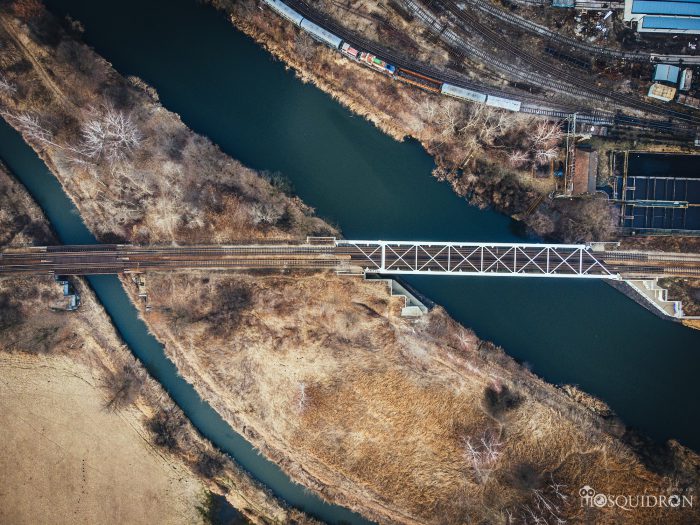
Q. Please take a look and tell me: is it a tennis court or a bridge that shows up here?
bridge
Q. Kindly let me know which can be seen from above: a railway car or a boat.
railway car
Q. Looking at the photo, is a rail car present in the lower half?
No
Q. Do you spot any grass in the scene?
Yes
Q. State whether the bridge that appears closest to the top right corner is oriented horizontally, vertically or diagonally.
horizontally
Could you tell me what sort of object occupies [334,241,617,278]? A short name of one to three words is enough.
bridge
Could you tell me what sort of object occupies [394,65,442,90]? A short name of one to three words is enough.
rail car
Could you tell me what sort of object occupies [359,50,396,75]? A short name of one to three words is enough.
rail car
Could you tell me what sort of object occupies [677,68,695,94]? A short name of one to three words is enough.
shed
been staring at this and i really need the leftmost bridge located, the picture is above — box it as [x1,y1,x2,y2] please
[33,245,144,275]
